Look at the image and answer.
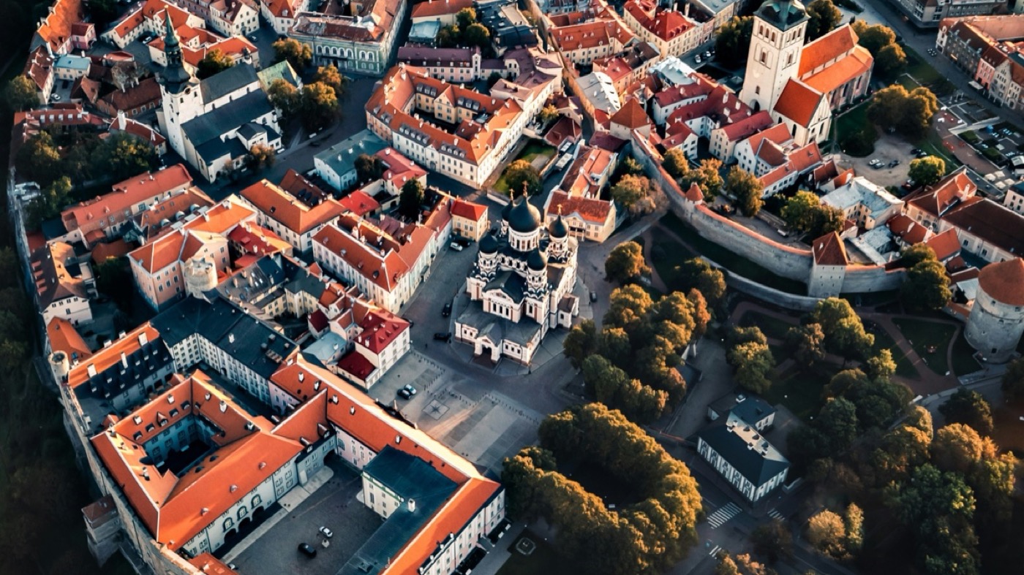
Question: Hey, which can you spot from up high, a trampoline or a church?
church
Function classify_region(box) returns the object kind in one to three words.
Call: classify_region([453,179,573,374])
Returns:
church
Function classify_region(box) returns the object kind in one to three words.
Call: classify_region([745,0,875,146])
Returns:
church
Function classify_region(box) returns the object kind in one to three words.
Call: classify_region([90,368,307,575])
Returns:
building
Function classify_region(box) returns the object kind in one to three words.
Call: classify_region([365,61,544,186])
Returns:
house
